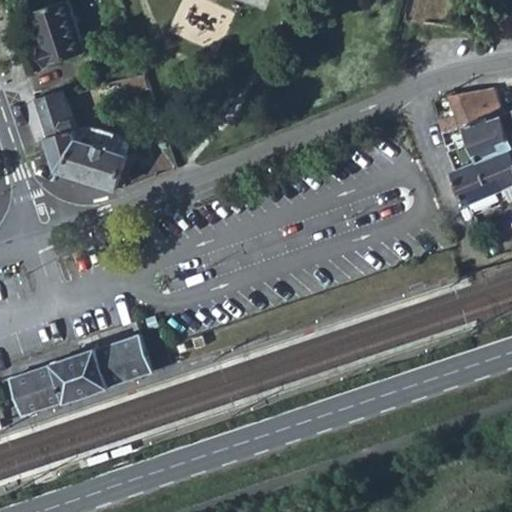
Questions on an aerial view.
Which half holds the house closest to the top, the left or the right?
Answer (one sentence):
It is on the left.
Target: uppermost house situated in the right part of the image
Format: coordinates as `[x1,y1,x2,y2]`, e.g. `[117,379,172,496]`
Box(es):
[438,87,502,132]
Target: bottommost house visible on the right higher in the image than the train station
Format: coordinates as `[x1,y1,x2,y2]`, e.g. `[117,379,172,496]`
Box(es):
[450,150,512,213]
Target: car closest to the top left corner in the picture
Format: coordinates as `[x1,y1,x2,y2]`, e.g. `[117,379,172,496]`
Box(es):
[37,70,58,84]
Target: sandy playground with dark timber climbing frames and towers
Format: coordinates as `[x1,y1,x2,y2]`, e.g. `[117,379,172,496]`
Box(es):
[170,0,235,47]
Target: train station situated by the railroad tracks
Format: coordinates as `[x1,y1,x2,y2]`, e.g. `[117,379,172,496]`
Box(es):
[0,278,477,493]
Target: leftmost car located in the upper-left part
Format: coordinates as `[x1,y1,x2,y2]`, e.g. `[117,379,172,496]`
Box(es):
[10,102,24,125]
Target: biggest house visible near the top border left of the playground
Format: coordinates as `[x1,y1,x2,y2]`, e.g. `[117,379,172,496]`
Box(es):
[33,1,82,70]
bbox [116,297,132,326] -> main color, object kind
white vehicle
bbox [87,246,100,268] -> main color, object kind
white vehicle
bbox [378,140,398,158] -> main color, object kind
white car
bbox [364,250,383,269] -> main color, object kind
white car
